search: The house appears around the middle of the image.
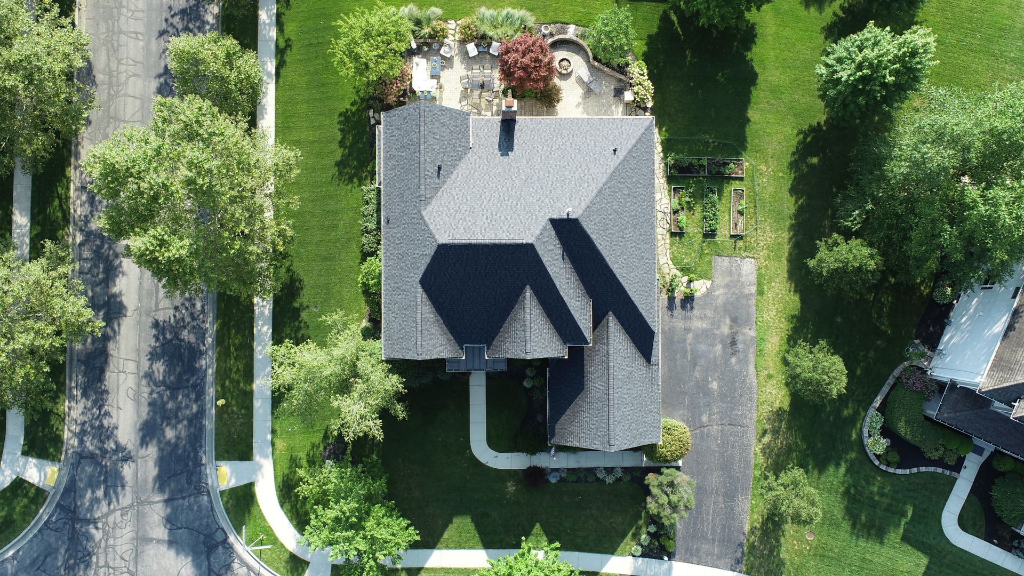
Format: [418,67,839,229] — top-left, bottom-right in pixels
[375,98,663,454]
